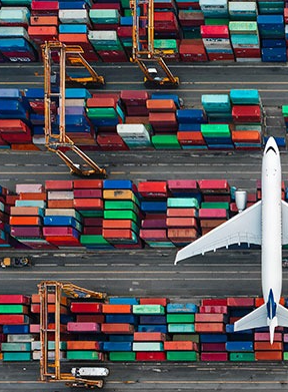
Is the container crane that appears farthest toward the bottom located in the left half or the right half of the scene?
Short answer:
left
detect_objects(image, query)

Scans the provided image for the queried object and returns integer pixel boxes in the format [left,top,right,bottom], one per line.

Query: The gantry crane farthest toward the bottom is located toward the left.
[36,281,103,387]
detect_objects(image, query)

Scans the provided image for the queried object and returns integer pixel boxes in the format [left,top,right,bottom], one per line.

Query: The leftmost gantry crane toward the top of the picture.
[41,40,108,177]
